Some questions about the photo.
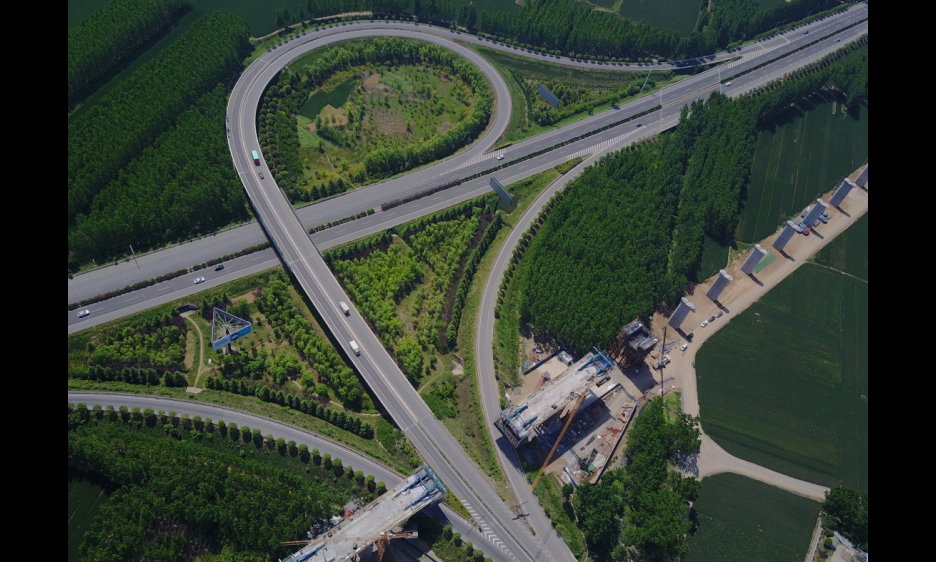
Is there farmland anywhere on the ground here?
Yes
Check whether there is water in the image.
No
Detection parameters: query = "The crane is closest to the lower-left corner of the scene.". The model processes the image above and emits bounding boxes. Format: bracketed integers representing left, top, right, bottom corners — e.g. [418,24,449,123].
[231,531,418,562]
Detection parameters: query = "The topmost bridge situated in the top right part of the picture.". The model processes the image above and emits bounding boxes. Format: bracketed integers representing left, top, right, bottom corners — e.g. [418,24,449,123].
[654,67,744,114]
